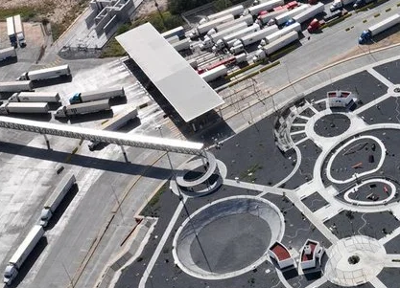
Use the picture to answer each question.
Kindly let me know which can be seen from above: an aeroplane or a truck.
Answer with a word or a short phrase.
truck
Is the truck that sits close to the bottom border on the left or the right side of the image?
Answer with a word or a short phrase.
left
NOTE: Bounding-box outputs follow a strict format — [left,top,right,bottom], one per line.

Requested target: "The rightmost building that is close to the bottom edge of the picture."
[299,237,319,274]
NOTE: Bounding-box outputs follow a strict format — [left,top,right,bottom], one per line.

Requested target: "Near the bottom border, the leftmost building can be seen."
[267,242,291,274]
